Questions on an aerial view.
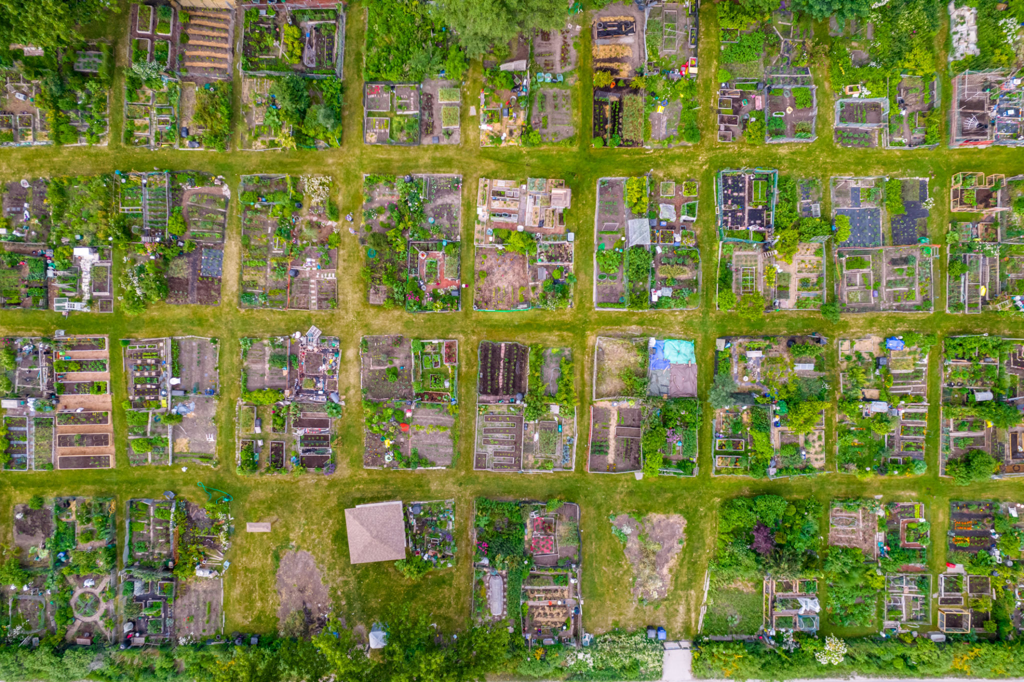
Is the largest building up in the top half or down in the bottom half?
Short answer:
bottom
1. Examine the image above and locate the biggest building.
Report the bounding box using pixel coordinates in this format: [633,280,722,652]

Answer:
[344,498,409,565]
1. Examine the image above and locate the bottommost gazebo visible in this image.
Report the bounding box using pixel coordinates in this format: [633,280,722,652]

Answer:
[369,625,390,650]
